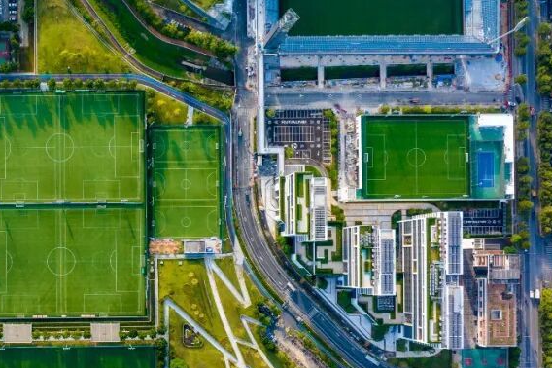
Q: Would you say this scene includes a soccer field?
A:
Yes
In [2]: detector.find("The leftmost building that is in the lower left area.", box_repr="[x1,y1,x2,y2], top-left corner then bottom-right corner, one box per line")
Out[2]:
[4,323,32,342]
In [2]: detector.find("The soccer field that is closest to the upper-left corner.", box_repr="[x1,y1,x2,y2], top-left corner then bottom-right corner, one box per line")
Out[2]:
[0,91,143,201]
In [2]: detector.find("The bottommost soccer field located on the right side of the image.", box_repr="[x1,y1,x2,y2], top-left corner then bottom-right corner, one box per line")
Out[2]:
[362,116,469,198]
